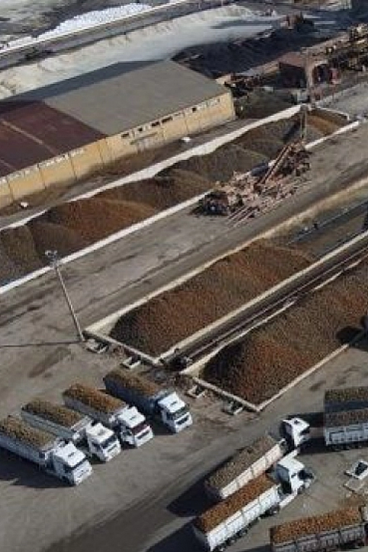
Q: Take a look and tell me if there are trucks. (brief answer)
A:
Yes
